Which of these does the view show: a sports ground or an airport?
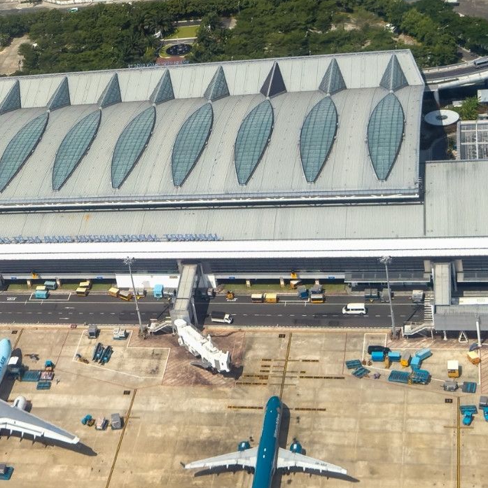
airport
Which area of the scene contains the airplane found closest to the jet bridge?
bottom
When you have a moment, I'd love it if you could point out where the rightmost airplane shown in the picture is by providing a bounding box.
[181,397,346,488]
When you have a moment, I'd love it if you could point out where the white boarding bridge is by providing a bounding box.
[171,318,239,380]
